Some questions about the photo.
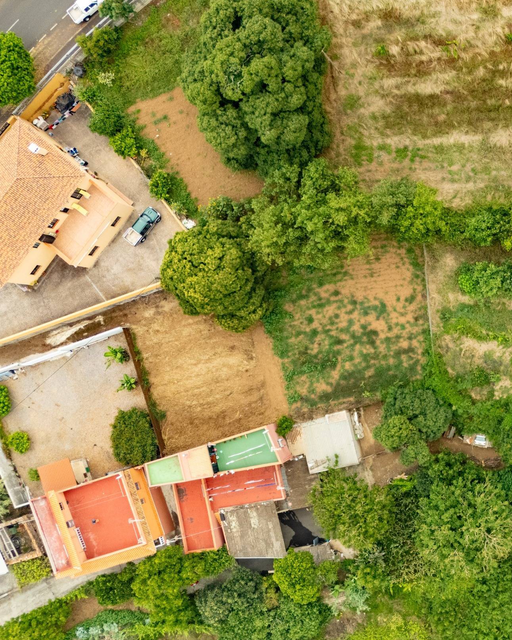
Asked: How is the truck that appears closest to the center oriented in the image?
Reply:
at an angle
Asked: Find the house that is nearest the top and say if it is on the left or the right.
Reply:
left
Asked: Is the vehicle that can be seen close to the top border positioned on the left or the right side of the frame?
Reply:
left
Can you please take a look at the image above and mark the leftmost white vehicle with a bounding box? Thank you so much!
[69,0,103,20]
